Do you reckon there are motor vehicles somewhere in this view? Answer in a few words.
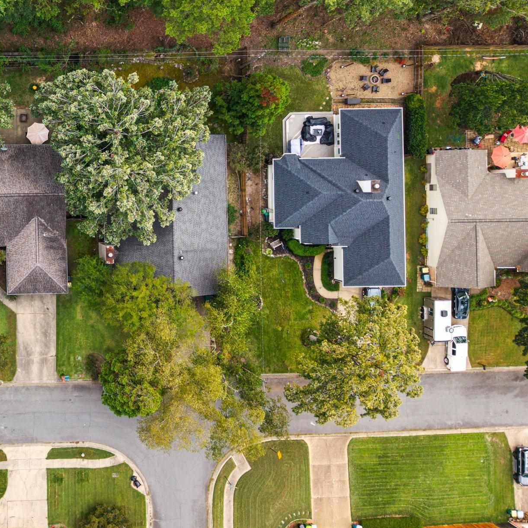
Yes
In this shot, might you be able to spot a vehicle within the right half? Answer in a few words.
Yes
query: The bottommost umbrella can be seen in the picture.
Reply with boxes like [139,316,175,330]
[488,146,512,167]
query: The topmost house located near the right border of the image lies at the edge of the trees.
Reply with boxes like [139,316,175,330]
[427,149,528,287]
